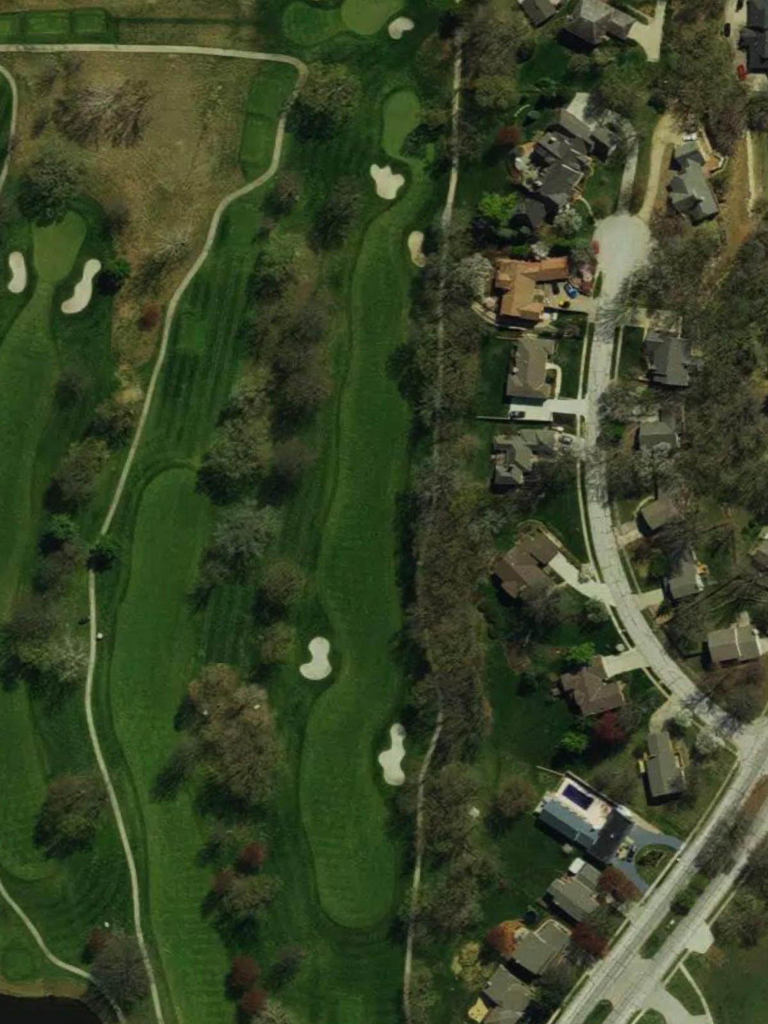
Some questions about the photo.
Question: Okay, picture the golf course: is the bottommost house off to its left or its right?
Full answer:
From the viewer's perspective, the bottommost house falls to the right of the golf course.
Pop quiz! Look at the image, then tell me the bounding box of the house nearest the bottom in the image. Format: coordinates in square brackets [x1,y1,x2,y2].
[468,965,533,1024]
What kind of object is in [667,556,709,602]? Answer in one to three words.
house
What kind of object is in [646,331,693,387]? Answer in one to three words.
house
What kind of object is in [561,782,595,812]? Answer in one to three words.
swimming pool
